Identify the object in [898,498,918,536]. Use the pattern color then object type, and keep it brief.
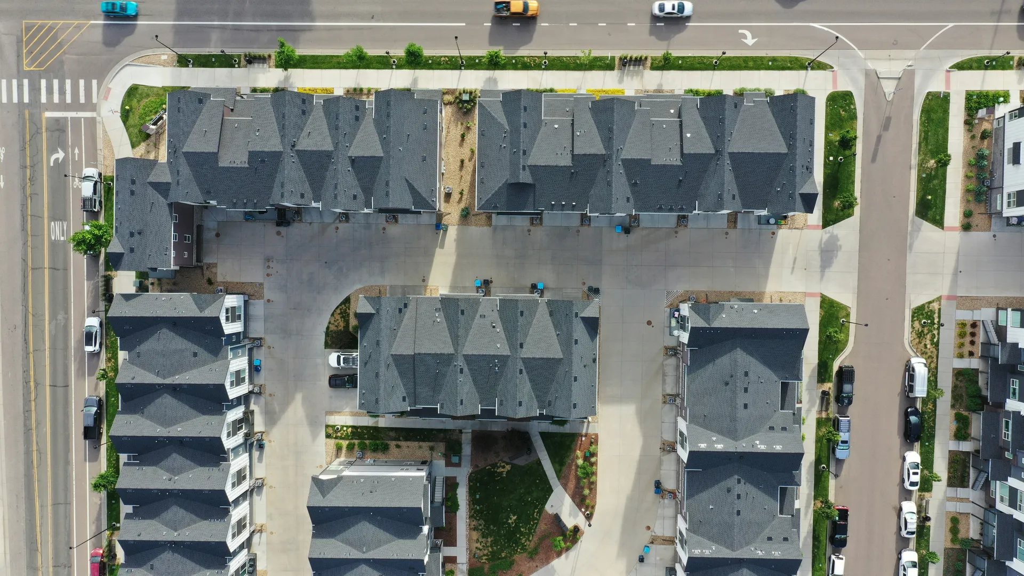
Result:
white car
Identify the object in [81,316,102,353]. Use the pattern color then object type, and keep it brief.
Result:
white car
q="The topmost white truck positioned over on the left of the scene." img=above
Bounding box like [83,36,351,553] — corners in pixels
[78,168,101,213]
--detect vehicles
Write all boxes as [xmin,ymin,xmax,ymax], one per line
[902,404,922,442]
[834,364,855,407]
[898,498,918,536]
[97,0,135,18]
[896,545,918,576]
[79,395,101,441]
[329,351,358,370]
[828,551,846,576]
[78,168,101,213]
[81,316,102,353]
[330,372,358,392]
[903,354,926,398]
[830,414,851,457]
[827,502,849,548]
[493,0,539,21]
[86,546,107,576]
[901,448,921,488]
[653,0,693,19]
